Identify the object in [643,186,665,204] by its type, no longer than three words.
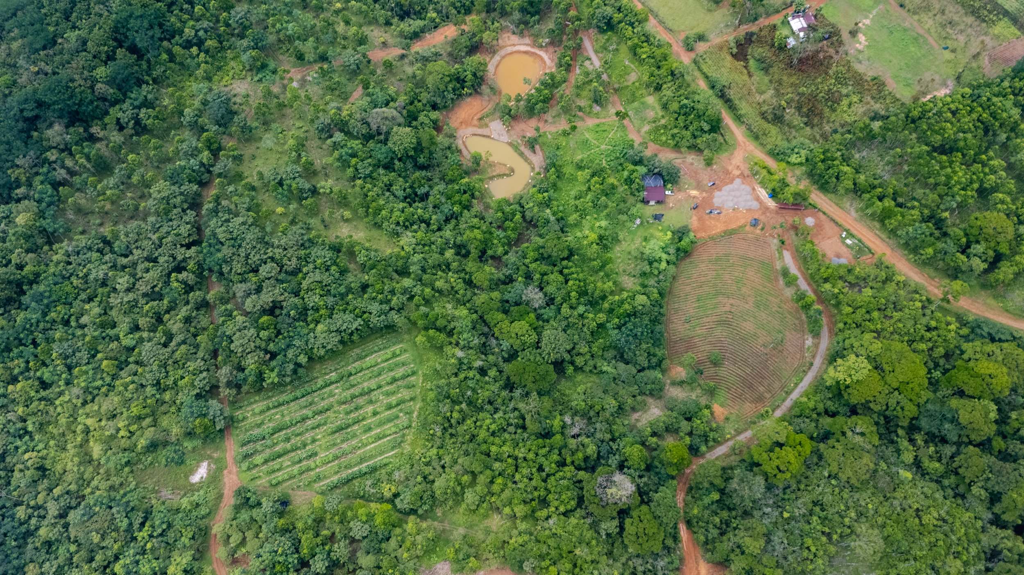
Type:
house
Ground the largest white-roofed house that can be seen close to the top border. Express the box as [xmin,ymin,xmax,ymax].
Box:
[787,12,816,37]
